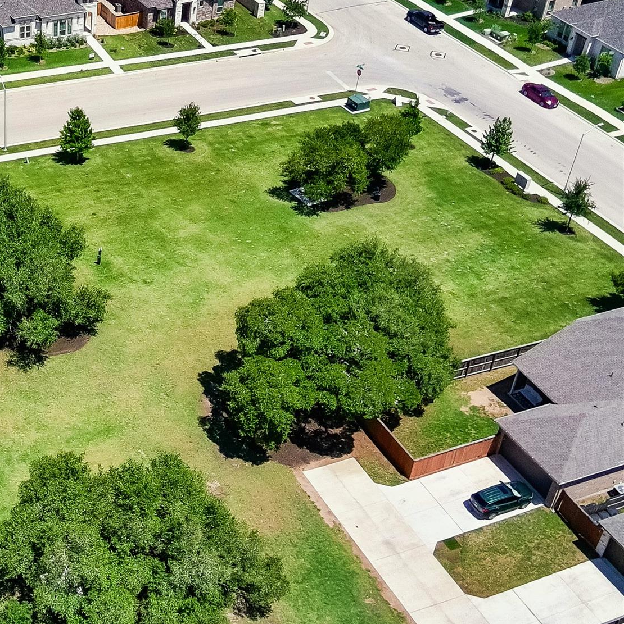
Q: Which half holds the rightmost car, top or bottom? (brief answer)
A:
top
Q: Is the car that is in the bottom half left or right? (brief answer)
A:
right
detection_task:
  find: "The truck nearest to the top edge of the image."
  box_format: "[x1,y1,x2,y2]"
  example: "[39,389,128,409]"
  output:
[403,6,446,33]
